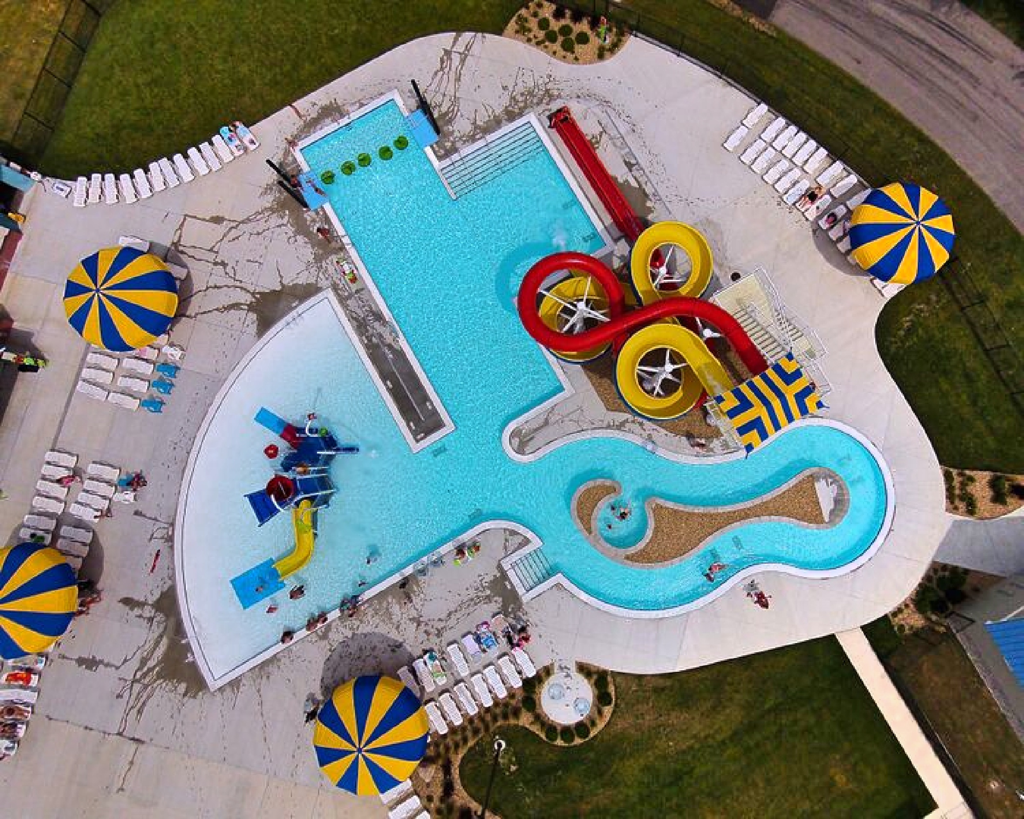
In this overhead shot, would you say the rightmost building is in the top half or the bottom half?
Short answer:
bottom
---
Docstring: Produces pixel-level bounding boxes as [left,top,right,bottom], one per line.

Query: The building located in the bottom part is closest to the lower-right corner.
[961,569,1024,696]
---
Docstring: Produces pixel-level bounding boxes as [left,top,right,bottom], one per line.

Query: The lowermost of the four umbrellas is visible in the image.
[314,673,432,794]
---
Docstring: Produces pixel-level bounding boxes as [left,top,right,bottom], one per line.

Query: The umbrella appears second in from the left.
[68,240,180,358]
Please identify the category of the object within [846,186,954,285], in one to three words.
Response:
umbrella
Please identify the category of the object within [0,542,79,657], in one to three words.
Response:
umbrella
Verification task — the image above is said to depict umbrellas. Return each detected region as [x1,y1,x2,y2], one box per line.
[846,186,954,285]
[314,673,432,794]
[68,240,180,358]
[0,542,79,657]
